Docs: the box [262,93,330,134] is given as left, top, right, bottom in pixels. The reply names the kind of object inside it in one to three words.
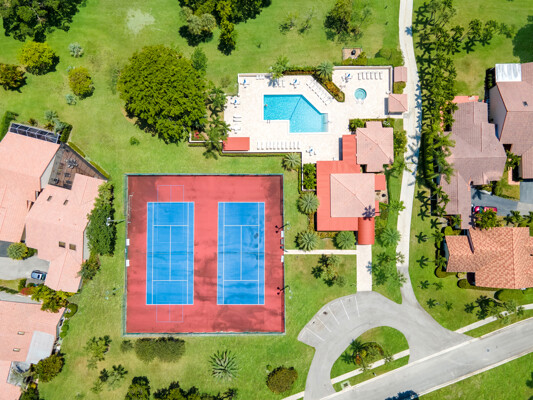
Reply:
swimming pool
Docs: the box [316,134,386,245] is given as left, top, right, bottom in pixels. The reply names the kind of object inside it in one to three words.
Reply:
building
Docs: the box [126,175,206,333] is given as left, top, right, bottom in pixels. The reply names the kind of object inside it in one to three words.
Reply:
tennis court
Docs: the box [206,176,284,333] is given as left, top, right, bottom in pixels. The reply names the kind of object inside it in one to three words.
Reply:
tennis court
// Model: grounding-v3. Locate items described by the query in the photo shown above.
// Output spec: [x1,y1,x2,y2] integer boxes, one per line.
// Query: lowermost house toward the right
[441,227,533,289]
